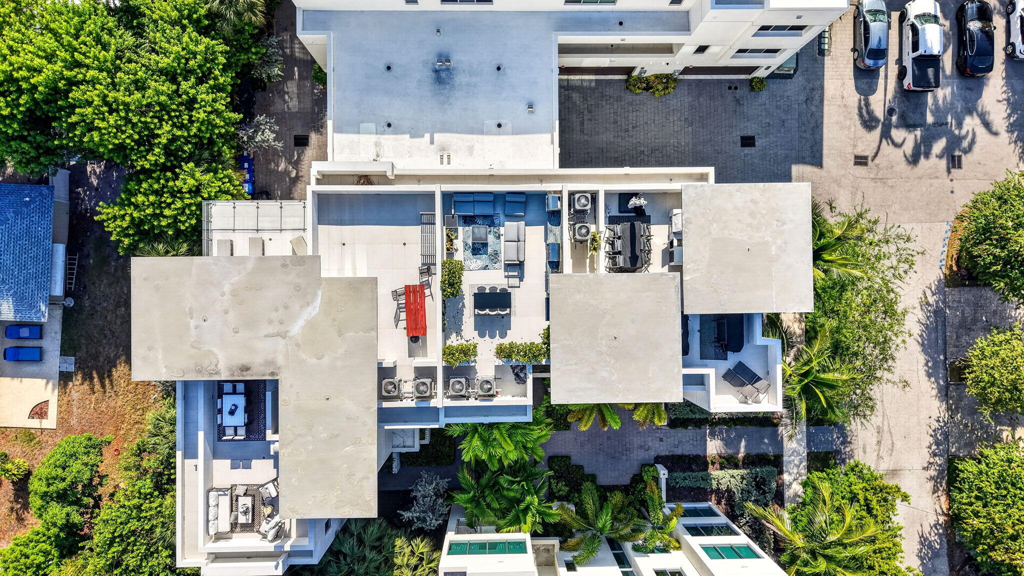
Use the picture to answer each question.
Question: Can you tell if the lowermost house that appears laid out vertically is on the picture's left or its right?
left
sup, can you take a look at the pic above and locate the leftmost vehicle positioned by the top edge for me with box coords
[855,0,896,70]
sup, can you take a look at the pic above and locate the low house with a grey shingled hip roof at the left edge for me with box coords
[0,172,69,322]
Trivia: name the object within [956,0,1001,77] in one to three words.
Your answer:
car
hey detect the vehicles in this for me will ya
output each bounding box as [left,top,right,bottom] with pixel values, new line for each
[1007,0,1024,64]
[855,0,896,70]
[899,0,946,91]
[956,0,1001,77]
